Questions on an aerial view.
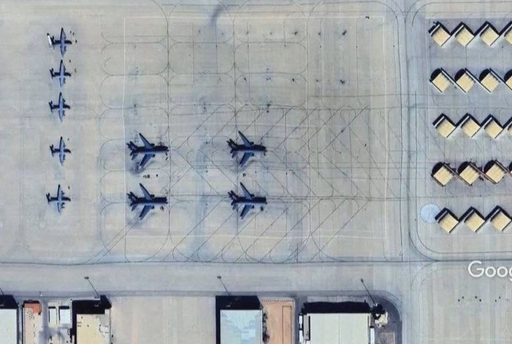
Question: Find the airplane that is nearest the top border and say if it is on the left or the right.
left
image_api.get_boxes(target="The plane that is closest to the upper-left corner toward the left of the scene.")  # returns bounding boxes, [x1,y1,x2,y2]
[50,29,72,58]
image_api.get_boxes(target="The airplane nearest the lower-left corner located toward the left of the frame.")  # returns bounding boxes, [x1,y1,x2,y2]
[49,185,70,214]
